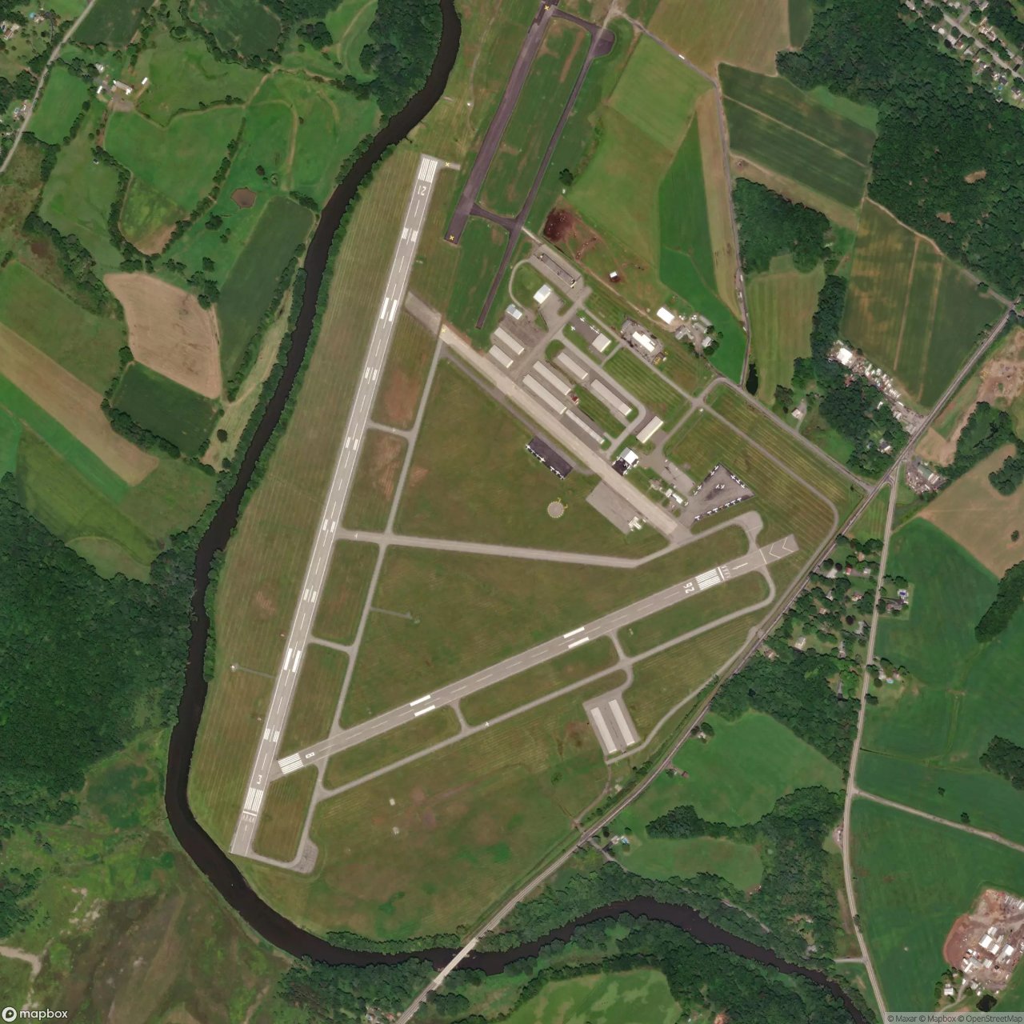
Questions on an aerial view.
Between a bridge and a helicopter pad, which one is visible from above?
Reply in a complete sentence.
It is a bridge that can be seen here.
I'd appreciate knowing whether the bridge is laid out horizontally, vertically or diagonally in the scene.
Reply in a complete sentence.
In this picture, the bridge is oriented diagonally.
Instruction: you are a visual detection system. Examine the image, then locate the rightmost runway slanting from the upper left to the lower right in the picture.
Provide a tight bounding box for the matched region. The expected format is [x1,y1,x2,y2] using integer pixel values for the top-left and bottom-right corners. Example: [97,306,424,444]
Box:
[439,323,677,534]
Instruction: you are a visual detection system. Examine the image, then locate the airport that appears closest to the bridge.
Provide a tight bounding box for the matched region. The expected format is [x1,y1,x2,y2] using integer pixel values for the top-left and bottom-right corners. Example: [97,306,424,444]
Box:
[231,0,798,873]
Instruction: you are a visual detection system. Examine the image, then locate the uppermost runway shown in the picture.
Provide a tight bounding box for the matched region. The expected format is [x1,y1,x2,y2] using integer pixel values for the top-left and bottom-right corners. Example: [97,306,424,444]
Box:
[444,0,556,244]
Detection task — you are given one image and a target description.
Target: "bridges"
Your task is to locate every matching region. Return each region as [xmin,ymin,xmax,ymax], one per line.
[426,933,483,993]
